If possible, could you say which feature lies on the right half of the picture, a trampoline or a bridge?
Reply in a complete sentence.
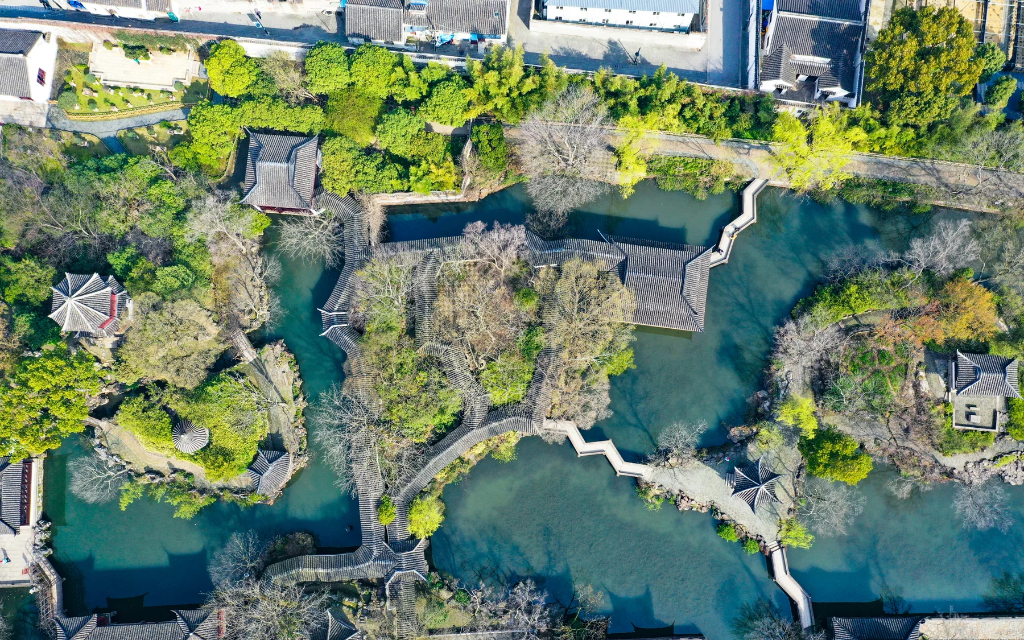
The feature located on the right half of the picture is a bridge.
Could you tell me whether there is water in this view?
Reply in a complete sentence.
Yes, the picture does contain water.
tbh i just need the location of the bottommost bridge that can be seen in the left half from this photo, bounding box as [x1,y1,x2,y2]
[34,553,72,617]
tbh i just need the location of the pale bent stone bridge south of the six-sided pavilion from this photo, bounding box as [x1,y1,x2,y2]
[770,548,819,640]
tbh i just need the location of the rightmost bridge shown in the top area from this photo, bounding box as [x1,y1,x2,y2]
[712,173,768,266]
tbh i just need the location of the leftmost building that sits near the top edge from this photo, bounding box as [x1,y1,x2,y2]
[0,29,54,105]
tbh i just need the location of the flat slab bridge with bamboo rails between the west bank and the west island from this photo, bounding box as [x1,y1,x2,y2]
[228,327,260,366]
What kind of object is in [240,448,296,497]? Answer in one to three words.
building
